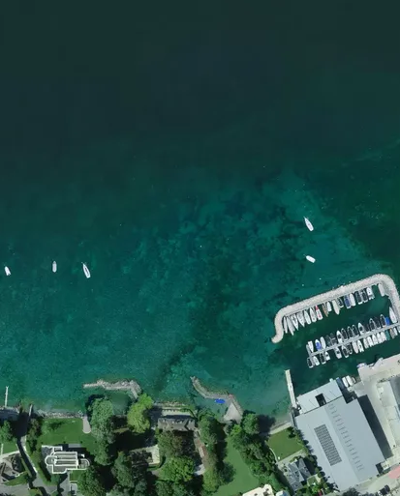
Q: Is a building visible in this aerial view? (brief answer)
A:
Yes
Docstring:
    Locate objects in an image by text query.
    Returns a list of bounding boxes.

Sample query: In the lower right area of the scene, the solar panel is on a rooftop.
[315,424,342,465]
